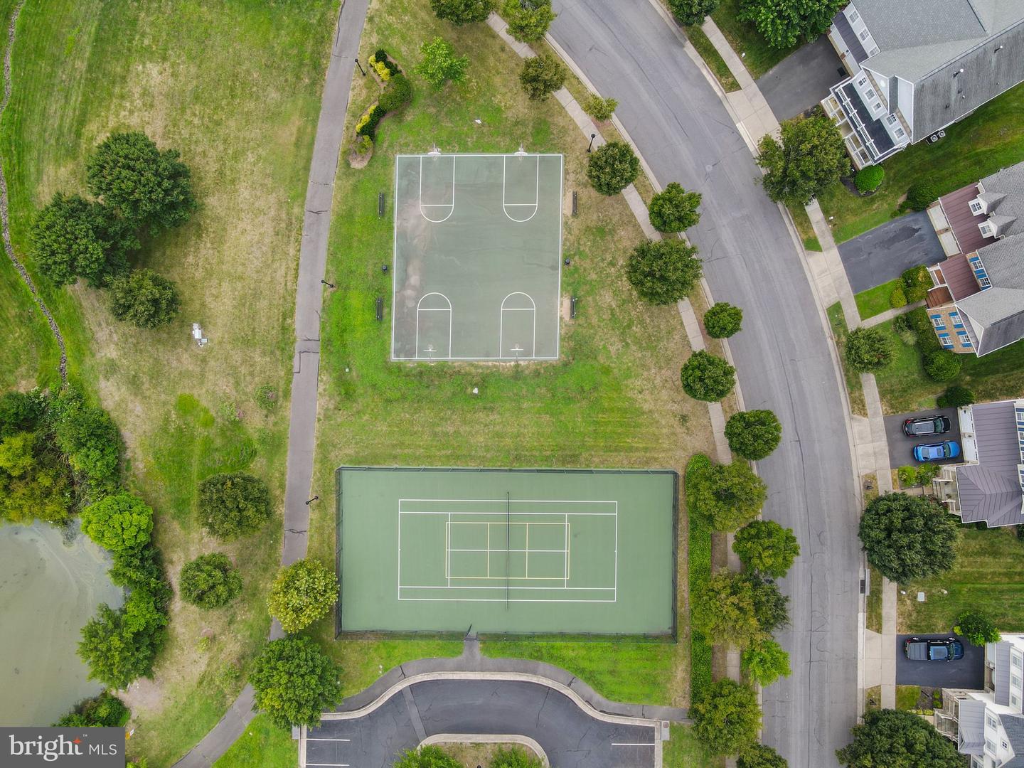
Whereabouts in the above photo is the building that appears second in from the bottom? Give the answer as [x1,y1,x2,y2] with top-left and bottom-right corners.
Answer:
[932,396,1024,529]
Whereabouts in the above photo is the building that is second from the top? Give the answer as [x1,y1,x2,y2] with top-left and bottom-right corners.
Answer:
[922,161,1024,359]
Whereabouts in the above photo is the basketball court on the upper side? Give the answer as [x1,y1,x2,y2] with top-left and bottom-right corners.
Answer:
[390,153,564,362]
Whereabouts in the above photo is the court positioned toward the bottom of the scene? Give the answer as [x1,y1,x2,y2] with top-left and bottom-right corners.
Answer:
[340,466,675,634]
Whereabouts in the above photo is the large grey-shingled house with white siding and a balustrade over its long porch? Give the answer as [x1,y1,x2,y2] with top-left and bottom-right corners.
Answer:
[817,0,1024,171]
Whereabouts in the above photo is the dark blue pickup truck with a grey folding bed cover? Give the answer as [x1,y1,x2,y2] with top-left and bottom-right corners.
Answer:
[902,638,960,663]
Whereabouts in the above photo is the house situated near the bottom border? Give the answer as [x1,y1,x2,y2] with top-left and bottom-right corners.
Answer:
[934,634,1024,768]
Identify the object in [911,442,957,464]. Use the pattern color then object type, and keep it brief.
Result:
blue car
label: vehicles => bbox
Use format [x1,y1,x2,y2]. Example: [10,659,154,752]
[902,638,960,663]
[900,415,949,438]
[911,442,957,464]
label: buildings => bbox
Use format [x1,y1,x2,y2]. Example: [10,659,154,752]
[817,0,1024,171]
[934,634,1024,768]
[922,161,1024,359]
[932,396,1024,529]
